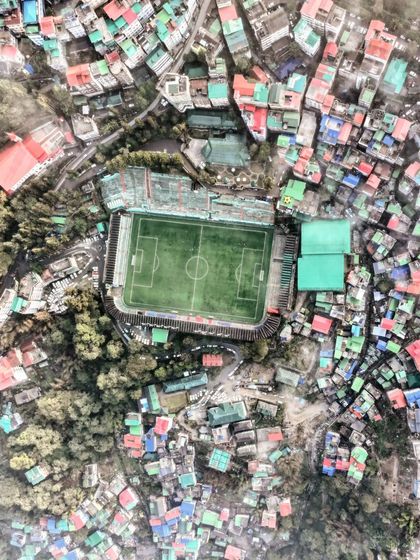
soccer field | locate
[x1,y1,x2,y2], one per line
[130,218,266,318]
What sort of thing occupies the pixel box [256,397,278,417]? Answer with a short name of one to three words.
house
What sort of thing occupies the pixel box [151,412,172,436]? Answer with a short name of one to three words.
house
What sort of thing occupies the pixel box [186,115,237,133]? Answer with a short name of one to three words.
building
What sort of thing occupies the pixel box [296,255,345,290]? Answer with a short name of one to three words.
building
